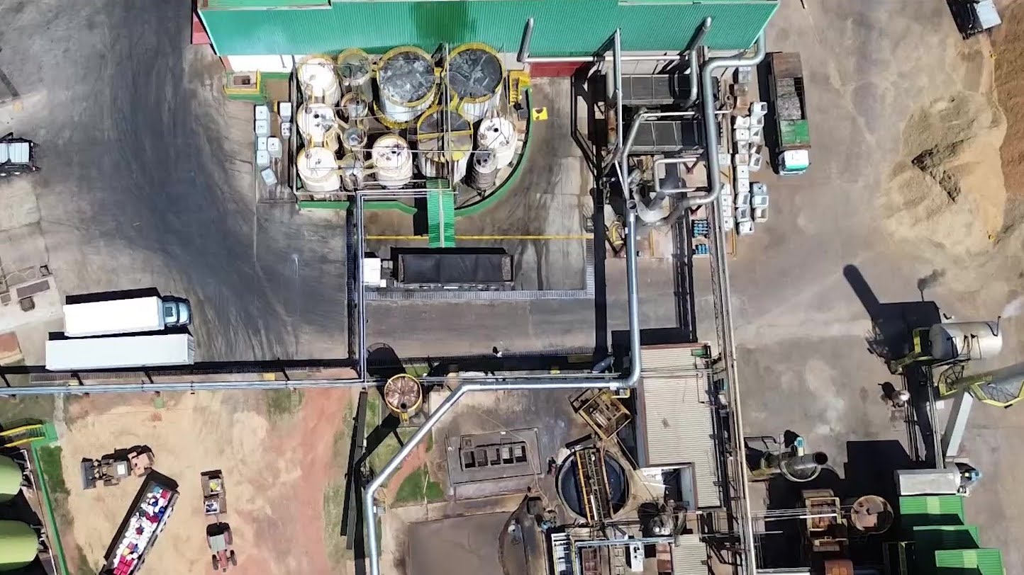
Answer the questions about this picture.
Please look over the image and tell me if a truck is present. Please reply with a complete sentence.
Yes, a truck can be made out from above.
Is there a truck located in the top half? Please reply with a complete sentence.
Yes, you'll find a truck in the top half.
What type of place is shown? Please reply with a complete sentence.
This looks like an industrial area.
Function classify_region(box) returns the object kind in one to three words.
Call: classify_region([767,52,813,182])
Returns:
truck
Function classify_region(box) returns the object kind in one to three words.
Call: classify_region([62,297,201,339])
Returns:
truck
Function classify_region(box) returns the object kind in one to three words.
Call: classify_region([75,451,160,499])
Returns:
work vehicle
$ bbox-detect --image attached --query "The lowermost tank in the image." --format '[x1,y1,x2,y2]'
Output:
[0,523,54,569]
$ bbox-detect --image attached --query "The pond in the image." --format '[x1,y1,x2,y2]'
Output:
[406,504,522,575]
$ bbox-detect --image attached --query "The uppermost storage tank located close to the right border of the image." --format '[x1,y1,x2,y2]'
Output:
[892,312,1009,381]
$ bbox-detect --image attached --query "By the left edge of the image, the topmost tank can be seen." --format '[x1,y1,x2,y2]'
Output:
[0,452,37,495]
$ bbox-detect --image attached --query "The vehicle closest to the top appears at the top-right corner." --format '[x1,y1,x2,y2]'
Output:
[934,0,998,45]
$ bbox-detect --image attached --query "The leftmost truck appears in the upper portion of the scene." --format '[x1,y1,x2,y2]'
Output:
[0,139,52,179]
